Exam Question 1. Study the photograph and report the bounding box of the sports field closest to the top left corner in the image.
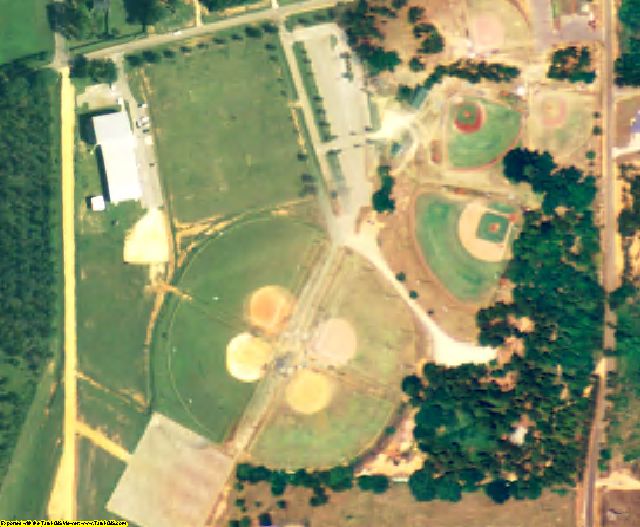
[133,36,319,224]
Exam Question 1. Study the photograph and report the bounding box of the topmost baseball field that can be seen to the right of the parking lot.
[464,0,534,52]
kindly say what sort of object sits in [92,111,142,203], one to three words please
building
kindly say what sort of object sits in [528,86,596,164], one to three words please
baseball field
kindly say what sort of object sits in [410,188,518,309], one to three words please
baseball field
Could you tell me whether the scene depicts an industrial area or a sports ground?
sports ground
